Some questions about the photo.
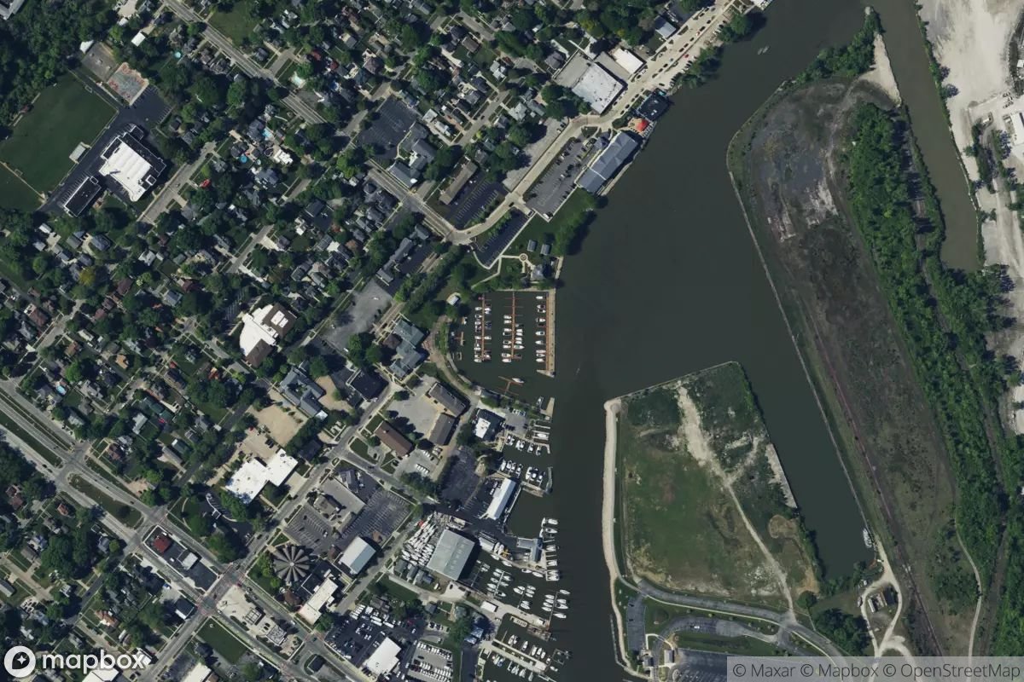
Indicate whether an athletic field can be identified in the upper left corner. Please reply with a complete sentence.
Yes, in the upper left corner there is an athletic field.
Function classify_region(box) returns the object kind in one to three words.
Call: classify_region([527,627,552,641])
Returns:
ship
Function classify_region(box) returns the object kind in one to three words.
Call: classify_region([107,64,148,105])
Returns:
sports court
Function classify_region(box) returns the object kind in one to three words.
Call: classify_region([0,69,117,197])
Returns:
sports field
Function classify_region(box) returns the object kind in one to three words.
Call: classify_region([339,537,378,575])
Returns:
building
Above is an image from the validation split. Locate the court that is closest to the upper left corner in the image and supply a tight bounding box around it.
[82,42,119,81]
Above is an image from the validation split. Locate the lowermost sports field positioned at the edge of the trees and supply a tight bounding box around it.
[0,166,43,211]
